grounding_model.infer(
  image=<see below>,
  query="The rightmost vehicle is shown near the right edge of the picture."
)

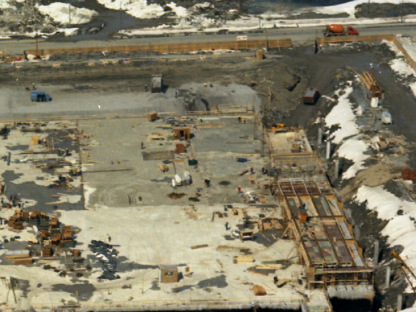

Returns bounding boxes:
[379,110,396,126]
